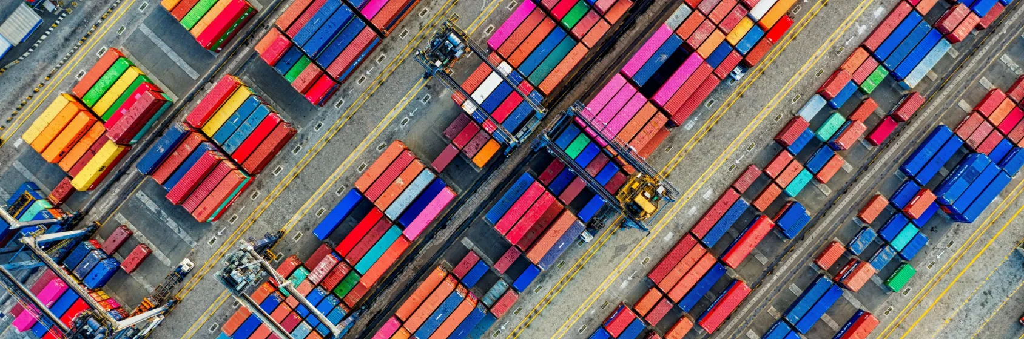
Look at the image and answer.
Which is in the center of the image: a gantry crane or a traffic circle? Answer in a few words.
gantry crane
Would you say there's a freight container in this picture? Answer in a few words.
Yes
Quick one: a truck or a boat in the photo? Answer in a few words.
truck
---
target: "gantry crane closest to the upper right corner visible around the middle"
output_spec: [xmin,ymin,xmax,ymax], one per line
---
[529,96,680,241]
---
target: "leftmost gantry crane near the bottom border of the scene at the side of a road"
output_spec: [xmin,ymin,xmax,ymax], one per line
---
[0,222,180,339]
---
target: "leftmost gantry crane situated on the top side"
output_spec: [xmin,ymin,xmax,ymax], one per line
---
[408,1,552,153]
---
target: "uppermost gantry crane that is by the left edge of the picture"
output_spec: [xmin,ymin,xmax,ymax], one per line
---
[0,199,88,253]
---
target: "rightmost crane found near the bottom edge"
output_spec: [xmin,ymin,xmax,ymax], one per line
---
[207,226,369,339]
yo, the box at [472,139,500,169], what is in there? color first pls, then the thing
orange shipping container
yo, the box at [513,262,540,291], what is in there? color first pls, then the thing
blue shipping container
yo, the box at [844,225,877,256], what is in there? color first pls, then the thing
blue shipping container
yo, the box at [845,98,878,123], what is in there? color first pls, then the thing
red shipping container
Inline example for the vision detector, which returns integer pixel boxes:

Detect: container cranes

[529,96,680,241]
[0,222,180,339]
[0,199,88,253]
[207,226,369,339]
[408,1,552,153]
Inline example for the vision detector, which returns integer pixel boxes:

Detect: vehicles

[576,206,616,248]
[726,50,754,85]
[148,256,196,306]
